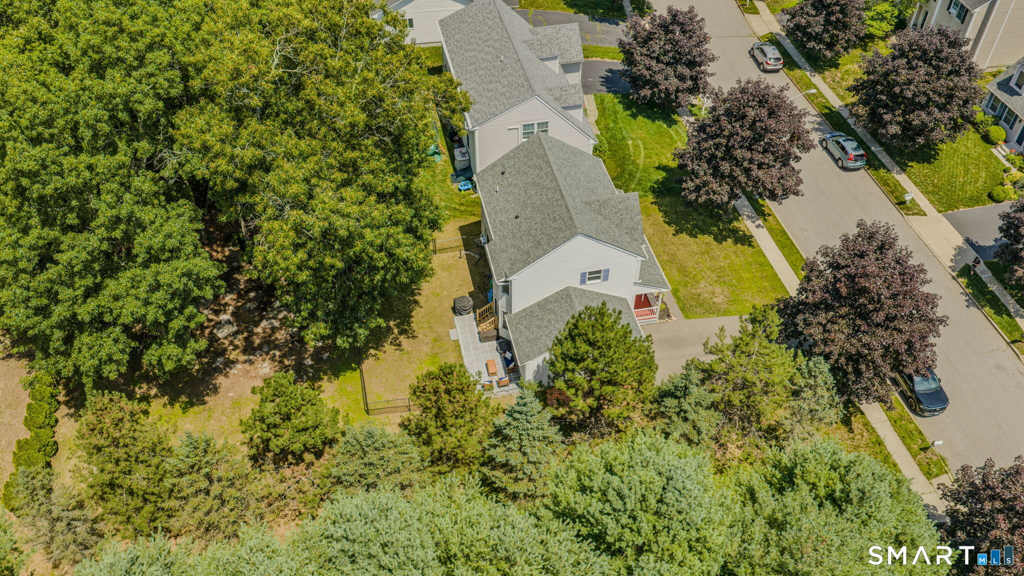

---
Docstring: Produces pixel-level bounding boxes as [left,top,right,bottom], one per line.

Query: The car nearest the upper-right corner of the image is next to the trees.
[818,125,864,164]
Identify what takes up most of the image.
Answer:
trees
